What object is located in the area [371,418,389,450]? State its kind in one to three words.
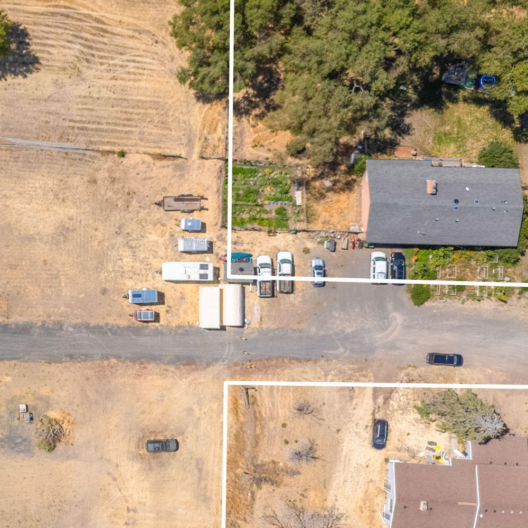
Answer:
car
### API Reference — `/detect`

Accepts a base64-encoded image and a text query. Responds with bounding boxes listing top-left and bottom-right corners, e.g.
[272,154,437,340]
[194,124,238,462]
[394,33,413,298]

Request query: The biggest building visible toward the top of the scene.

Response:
[361,159,524,247]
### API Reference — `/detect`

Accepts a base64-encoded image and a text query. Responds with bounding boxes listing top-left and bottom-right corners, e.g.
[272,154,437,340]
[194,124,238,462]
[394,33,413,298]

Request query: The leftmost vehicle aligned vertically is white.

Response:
[256,256,274,297]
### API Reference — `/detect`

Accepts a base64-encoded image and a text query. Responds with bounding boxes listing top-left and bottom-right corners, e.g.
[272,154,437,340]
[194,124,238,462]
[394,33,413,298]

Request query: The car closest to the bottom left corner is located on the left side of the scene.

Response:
[146,437,178,454]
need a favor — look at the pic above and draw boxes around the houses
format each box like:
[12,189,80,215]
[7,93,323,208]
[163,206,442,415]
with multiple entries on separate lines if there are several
[376,435,528,528]
[361,159,524,247]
